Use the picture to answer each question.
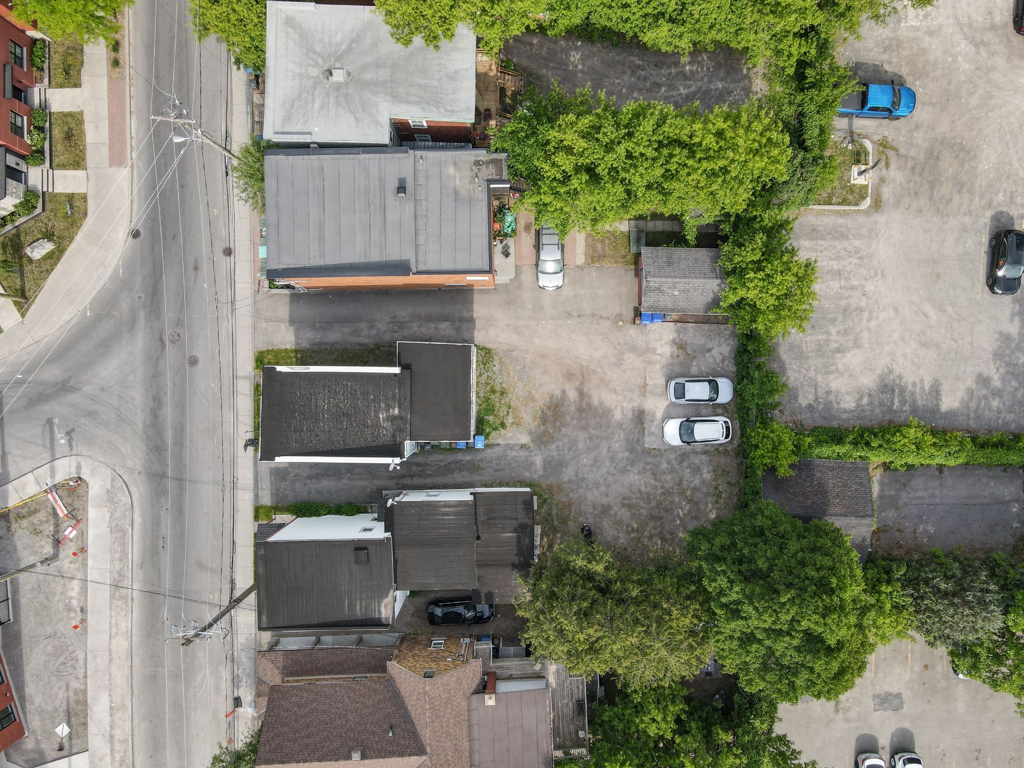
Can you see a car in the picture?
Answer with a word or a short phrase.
Yes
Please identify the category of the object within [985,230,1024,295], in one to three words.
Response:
car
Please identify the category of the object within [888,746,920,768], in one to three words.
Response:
car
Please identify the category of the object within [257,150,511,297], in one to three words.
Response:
building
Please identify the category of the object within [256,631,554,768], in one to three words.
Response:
house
